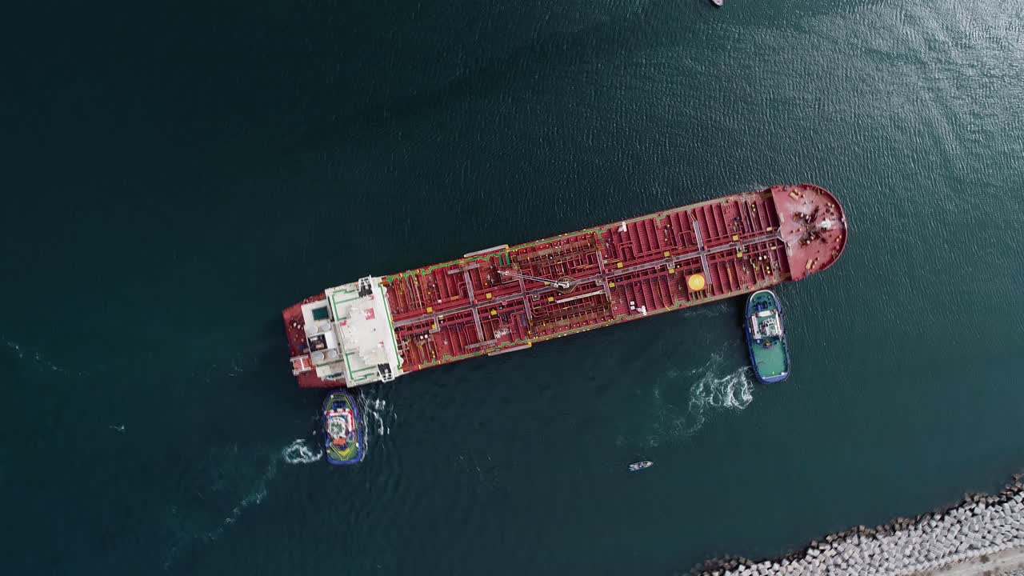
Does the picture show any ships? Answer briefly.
Yes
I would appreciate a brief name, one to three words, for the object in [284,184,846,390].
ship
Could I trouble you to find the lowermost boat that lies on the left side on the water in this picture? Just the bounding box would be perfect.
[322,388,366,466]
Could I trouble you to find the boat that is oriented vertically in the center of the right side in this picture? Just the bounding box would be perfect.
[744,291,791,384]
